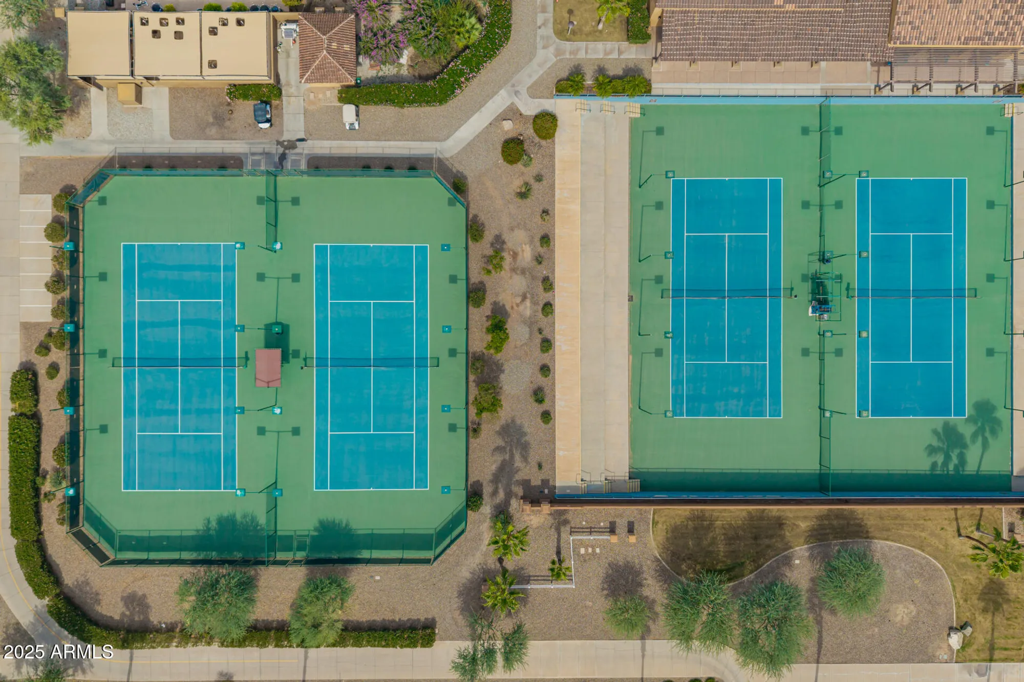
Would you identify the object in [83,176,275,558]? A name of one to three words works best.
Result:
tennis court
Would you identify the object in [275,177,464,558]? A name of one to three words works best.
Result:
tennis court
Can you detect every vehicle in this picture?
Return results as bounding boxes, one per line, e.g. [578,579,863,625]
[254,102,274,131]
[344,103,361,132]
